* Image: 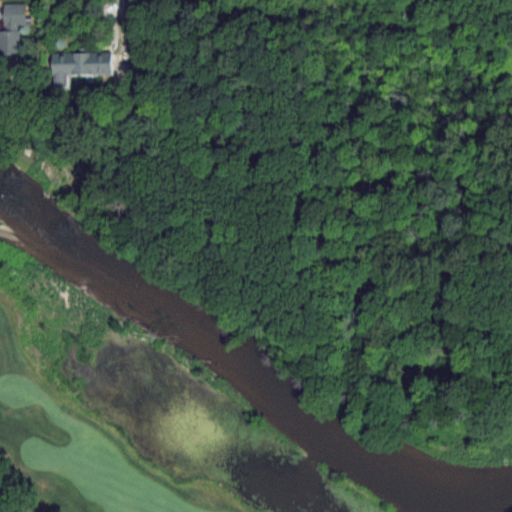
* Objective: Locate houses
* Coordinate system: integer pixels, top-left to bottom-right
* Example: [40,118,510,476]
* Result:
[52,48,112,86]
[0,4,33,56]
